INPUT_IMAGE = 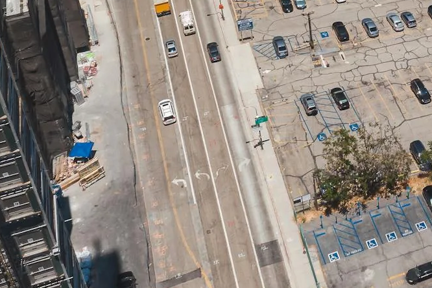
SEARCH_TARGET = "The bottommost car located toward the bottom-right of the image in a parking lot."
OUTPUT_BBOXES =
[403,262,432,287]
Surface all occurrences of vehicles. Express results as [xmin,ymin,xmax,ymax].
[330,86,350,113]
[277,0,295,14]
[271,36,289,60]
[399,10,418,31]
[164,38,180,62]
[299,90,320,119]
[403,262,432,287]
[293,0,308,11]
[206,40,223,65]
[331,20,350,44]
[179,5,196,37]
[408,140,432,171]
[409,83,432,109]
[154,0,171,20]
[420,183,432,215]
[384,12,405,35]
[359,17,380,40]
[425,4,432,19]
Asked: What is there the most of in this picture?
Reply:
paved ground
